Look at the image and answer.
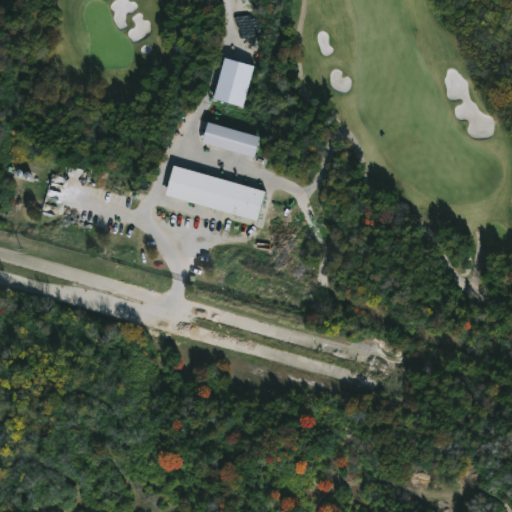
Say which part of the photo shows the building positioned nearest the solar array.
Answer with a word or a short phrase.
top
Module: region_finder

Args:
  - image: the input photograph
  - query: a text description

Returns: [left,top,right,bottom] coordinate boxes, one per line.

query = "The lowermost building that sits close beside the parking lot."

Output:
[166,165,266,221]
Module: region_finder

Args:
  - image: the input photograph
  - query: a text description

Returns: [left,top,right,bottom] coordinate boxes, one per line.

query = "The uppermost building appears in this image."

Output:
[213,57,255,108]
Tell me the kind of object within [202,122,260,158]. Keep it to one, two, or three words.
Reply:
building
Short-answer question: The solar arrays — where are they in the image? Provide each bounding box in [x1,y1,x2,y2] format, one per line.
[235,14,256,39]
